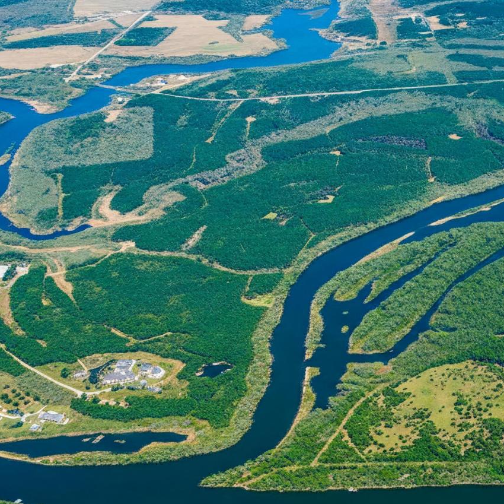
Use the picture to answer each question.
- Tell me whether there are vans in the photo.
No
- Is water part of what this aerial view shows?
Yes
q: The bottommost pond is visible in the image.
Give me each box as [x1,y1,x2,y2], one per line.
[0,431,186,457]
